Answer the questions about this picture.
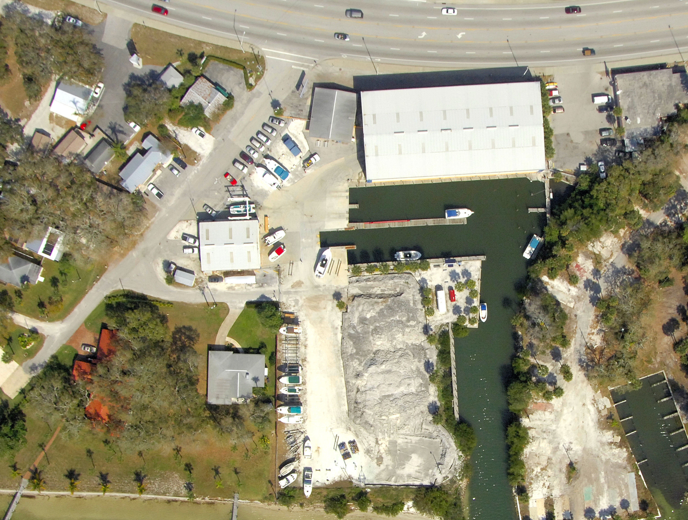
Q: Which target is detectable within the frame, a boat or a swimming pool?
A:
boat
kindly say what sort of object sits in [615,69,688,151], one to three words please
building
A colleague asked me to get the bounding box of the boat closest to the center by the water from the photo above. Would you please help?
[314,248,330,278]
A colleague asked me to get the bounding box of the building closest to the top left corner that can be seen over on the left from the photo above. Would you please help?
[51,81,92,121]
